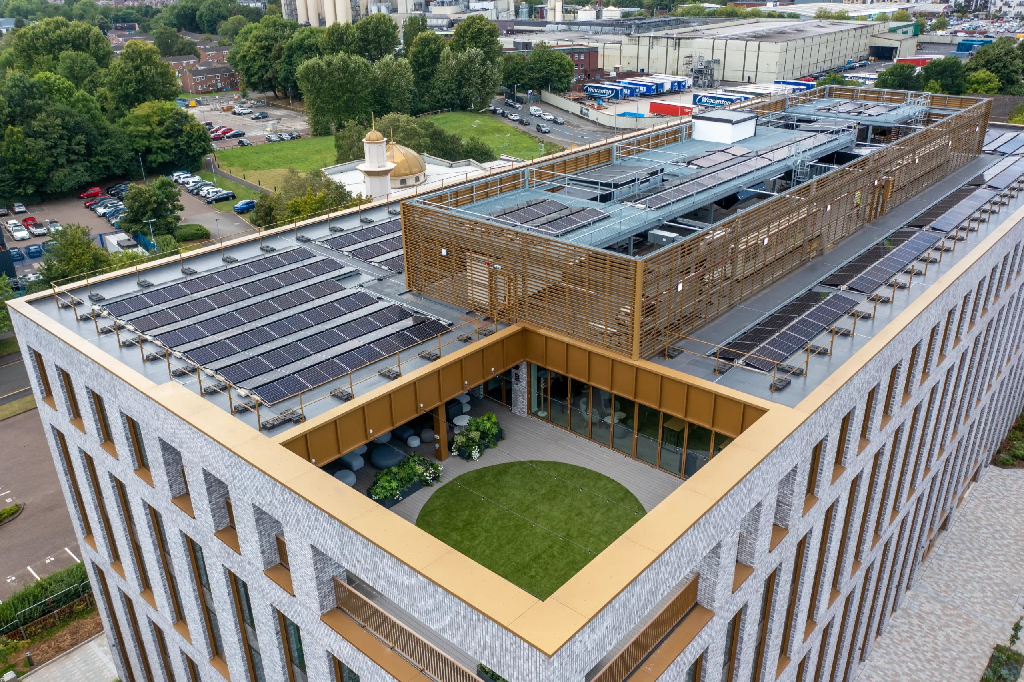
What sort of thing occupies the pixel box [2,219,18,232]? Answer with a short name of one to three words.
vehicle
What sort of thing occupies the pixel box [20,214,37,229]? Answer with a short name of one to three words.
car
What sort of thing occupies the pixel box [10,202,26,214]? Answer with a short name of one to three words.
vehicle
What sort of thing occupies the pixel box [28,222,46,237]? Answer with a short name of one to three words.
car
